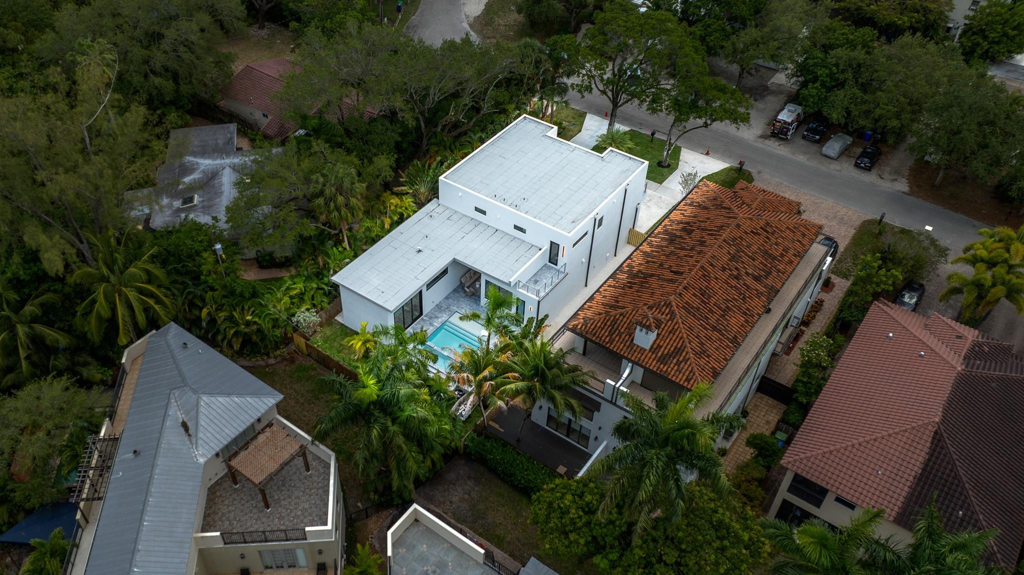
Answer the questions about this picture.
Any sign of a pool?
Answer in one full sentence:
Yes, the frame does contain a pool.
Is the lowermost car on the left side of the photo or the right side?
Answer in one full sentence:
The lowermost car appears in the right half of the scene.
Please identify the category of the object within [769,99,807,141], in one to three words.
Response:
van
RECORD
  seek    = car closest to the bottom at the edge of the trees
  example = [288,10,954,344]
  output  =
[893,278,927,315]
